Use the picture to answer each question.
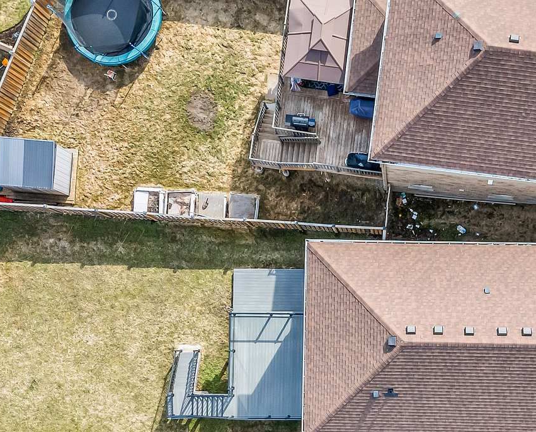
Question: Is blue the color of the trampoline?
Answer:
Yes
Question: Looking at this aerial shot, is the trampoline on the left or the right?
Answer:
left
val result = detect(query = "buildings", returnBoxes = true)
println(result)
[0,137,79,203]
[300,237,536,432]
[342,0,536,211]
